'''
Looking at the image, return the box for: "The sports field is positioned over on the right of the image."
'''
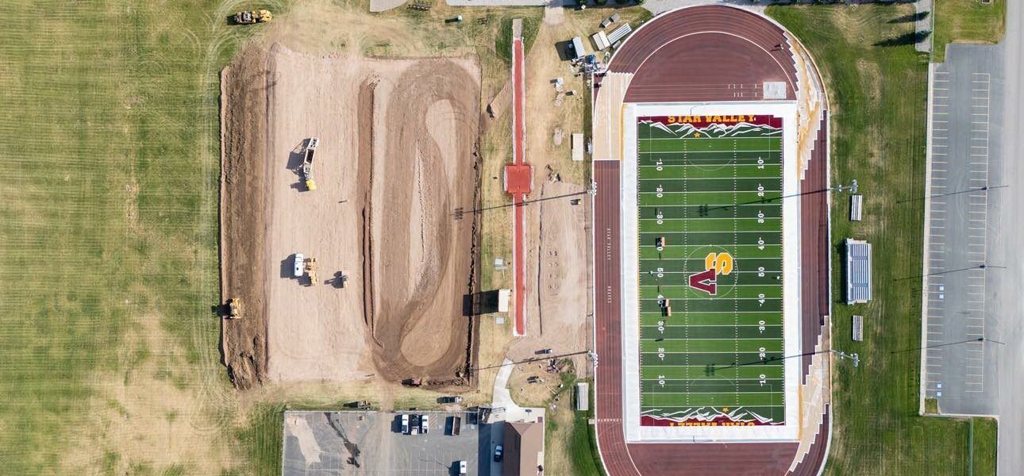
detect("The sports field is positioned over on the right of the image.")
[620,100,802,445]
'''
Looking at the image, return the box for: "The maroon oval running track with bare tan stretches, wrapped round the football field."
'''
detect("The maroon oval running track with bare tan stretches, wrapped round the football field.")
[590,3,832,476]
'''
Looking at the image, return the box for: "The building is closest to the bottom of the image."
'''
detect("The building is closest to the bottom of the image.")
[504,420,542,476]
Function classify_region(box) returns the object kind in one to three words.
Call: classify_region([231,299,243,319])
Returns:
vehicle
